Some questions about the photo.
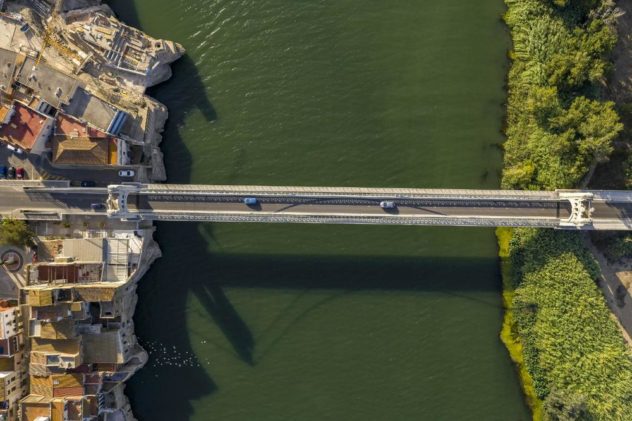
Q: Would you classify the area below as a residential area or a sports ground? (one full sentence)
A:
This image shows a residential area.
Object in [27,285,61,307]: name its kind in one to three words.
house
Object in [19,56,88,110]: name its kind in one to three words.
building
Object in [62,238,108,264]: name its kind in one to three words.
building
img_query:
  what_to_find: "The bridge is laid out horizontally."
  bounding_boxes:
[28,182,632,231]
